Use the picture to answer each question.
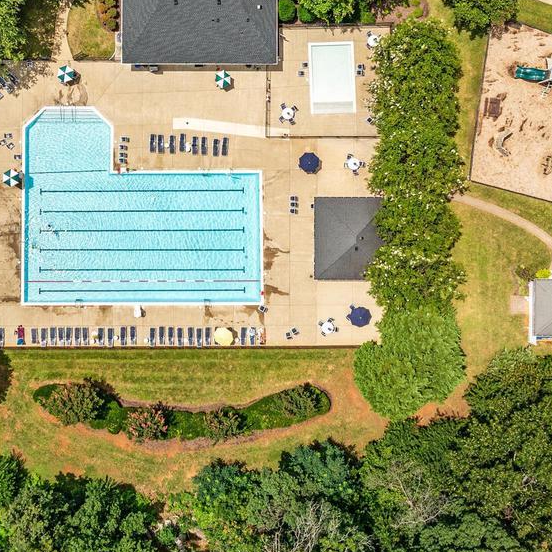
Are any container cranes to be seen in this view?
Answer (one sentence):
No, I can see no container crane in this picture.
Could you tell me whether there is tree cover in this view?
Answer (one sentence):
Yes, tree cover shows up in the scene.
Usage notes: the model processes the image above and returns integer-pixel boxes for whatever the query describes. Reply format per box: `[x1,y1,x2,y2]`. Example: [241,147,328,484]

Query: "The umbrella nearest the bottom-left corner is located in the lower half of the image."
[213,326,233,347]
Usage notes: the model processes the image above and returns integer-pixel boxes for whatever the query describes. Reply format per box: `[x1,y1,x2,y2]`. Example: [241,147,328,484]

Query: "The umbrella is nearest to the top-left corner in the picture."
[57,66,77,84]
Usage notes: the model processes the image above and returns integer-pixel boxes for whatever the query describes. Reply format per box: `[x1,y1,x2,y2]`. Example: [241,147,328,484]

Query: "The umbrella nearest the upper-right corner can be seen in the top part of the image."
[298,152,319,173]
